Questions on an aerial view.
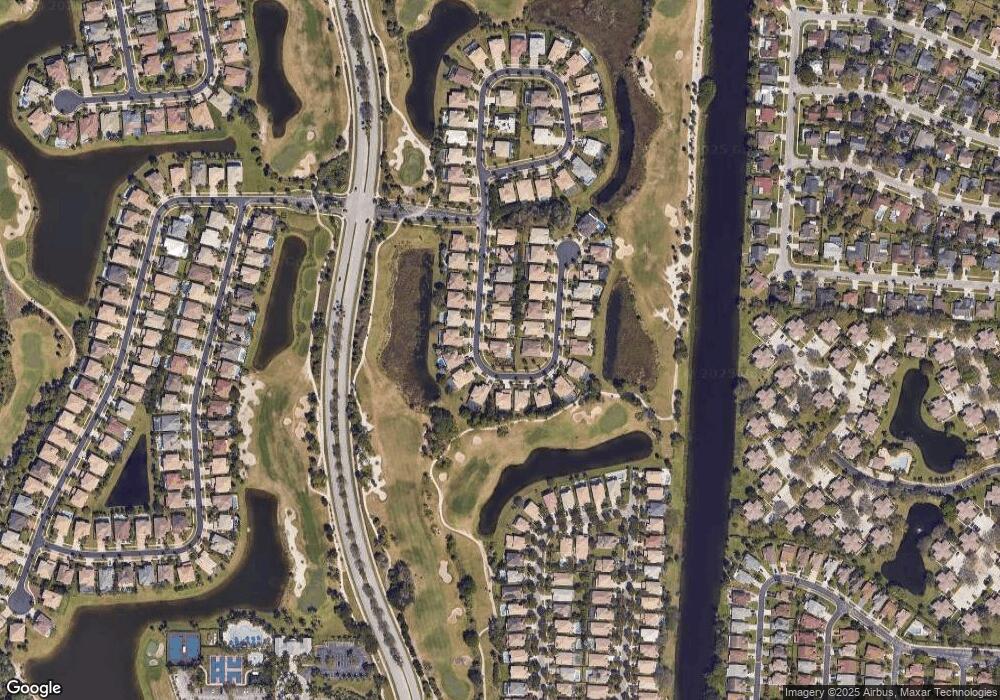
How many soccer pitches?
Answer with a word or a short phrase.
0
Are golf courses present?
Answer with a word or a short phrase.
Yes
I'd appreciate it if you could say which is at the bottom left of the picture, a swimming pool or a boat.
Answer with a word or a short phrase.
swimming pool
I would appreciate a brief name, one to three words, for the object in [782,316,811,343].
building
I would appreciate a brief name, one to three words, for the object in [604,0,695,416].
golf course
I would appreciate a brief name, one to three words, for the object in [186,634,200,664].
tennis court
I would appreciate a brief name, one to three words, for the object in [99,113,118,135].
house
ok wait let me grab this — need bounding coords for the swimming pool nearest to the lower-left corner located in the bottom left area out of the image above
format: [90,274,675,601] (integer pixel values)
[223,620,271,649]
